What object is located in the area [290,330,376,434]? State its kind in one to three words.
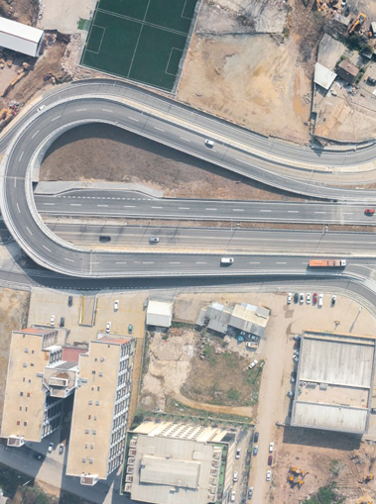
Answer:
building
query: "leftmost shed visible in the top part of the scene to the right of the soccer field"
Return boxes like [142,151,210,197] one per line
[312,62,338,90]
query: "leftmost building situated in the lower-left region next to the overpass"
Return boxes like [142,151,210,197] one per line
[0,327,77,448]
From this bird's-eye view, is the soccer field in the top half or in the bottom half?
top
